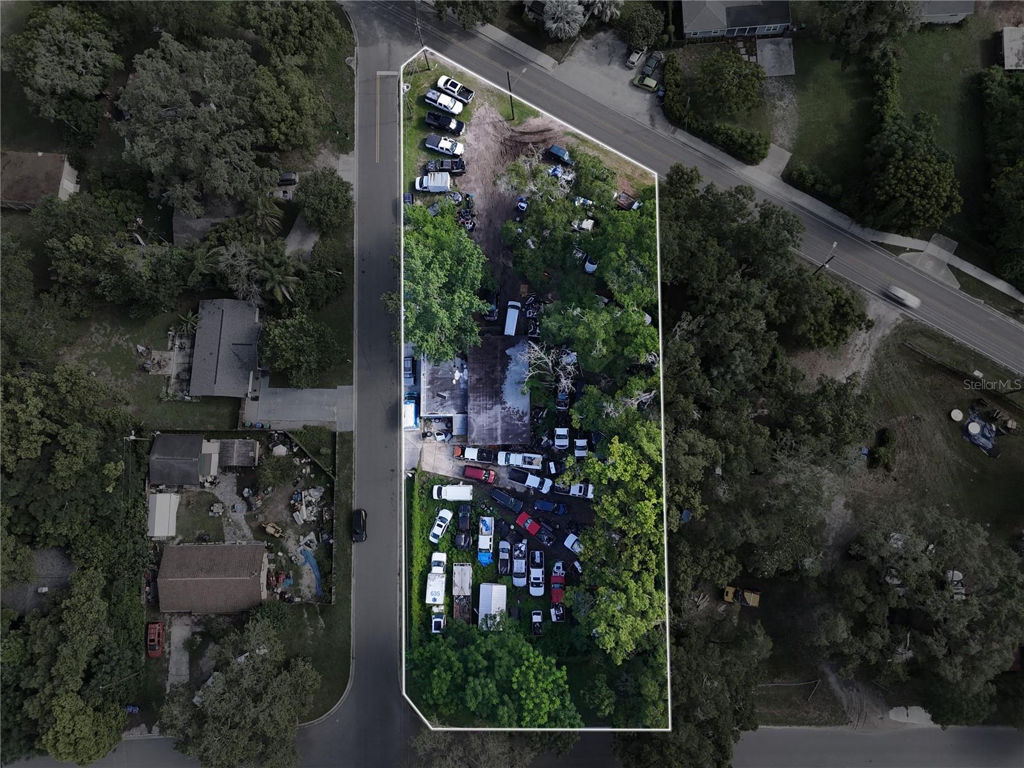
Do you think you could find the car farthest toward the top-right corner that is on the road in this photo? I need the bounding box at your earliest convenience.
[883,284,919,309]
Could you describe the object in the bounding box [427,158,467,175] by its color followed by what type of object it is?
black vehicle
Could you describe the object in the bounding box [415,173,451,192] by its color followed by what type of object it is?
white vehicle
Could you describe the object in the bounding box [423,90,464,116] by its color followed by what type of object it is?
white truck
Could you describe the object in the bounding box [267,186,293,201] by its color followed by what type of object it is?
gray car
